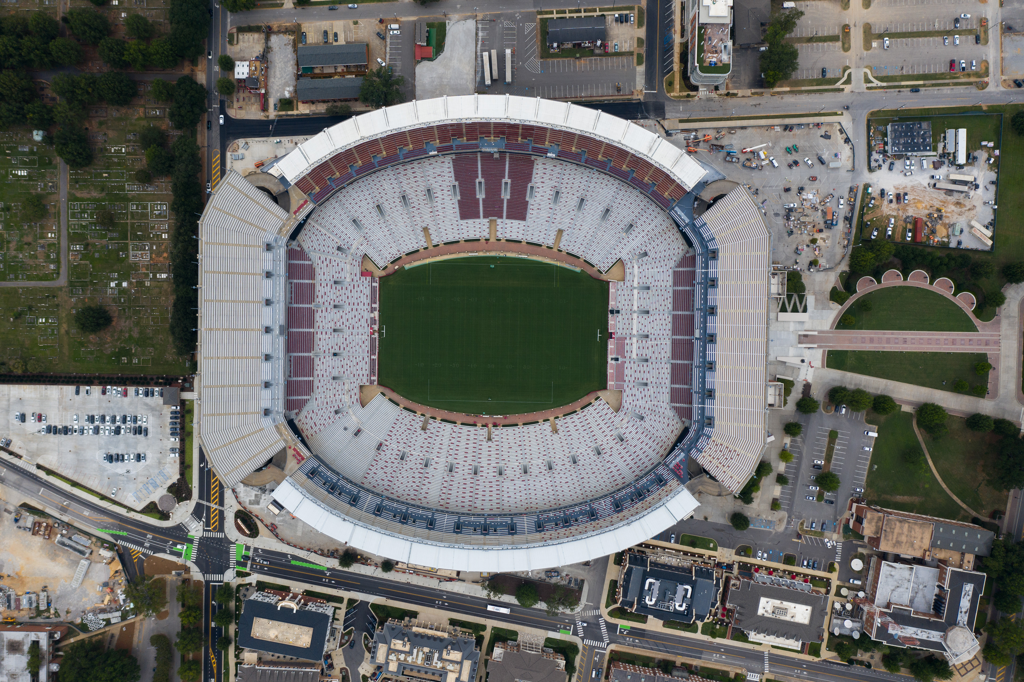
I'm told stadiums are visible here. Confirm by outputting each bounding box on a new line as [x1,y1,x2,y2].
[189,91,778,574]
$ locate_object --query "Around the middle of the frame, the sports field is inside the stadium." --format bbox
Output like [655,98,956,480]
[378,257,608,416]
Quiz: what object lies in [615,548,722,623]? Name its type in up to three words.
house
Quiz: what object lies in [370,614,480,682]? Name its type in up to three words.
house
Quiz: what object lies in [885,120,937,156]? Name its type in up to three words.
building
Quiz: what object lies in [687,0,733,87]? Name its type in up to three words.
building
